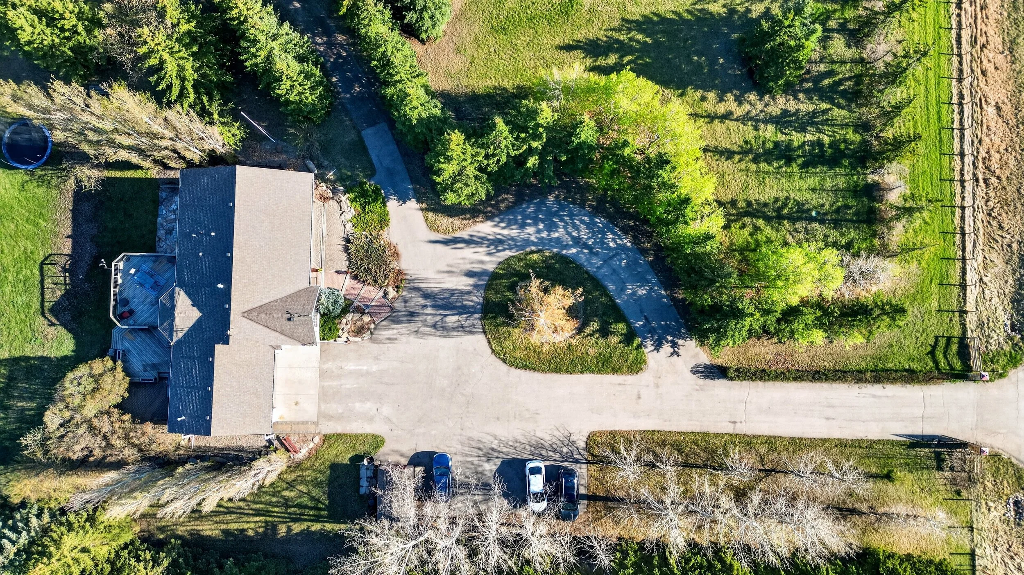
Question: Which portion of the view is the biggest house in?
left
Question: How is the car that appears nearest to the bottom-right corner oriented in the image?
from top to bottom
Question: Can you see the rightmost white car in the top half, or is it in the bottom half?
bottom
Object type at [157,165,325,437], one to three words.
house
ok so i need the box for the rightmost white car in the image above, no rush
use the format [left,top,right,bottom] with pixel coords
[525,460,548,512]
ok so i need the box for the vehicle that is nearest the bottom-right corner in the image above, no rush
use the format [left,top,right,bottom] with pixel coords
[559,467,583,520]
